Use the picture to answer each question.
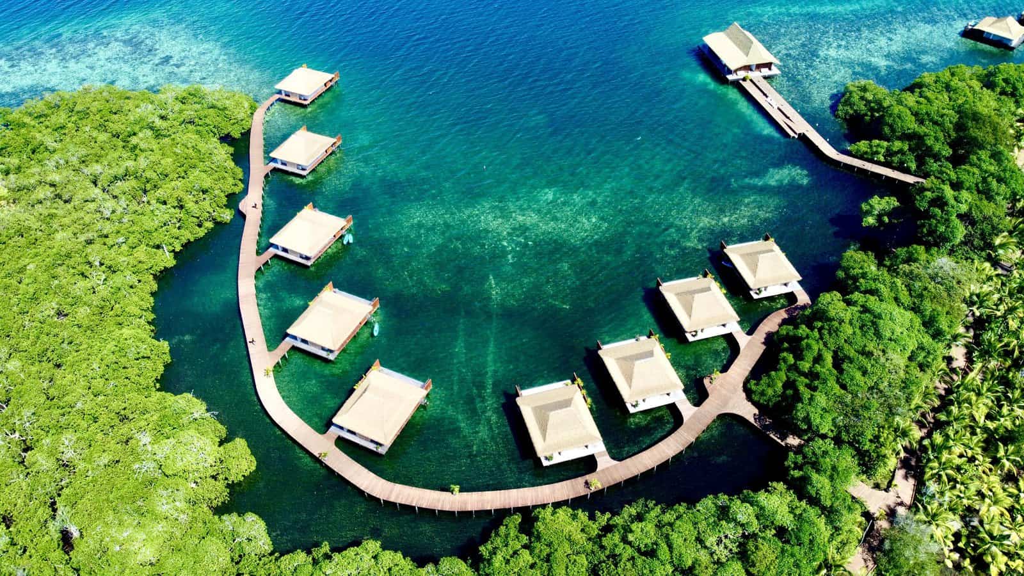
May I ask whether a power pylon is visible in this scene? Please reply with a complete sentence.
No, I find no power pylon anywhere in the image.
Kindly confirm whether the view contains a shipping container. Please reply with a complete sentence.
No, there's no shipping container here.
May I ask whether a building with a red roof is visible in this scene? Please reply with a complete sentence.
No, no building with a red roof is visible in the view.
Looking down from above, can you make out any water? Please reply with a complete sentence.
Yes, there is water in the image.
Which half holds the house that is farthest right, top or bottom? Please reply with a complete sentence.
The house that is farthest right sits in the top half of the picture.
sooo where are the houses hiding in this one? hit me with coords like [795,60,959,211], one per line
[276,65,342,108]
[286,283,384,363]
[269,203,357,269]
[513,373,604,470]
[719,236,801,304]
[655,271,740,346]
[596,330,685,417]
[330,359,438,456]
[963,15,1024,52]
[270,126,346,178]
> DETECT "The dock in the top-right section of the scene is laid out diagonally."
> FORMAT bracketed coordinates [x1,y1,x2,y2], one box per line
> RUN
[740,75,925,190]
